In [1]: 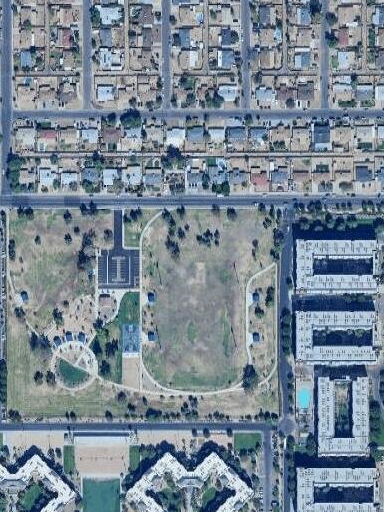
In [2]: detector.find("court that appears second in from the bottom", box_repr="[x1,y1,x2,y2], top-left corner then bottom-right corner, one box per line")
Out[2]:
[122,357,140,389]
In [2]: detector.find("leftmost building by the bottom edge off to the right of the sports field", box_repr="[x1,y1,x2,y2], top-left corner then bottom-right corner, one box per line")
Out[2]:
[128,453,253,512]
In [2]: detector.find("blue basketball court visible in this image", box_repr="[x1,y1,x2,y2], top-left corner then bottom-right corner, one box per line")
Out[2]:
[123,324,139,352]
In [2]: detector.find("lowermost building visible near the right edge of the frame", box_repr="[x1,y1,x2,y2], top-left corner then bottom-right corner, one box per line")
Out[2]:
[295,468,376,512]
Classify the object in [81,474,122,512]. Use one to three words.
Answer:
sports field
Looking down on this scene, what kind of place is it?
residential area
